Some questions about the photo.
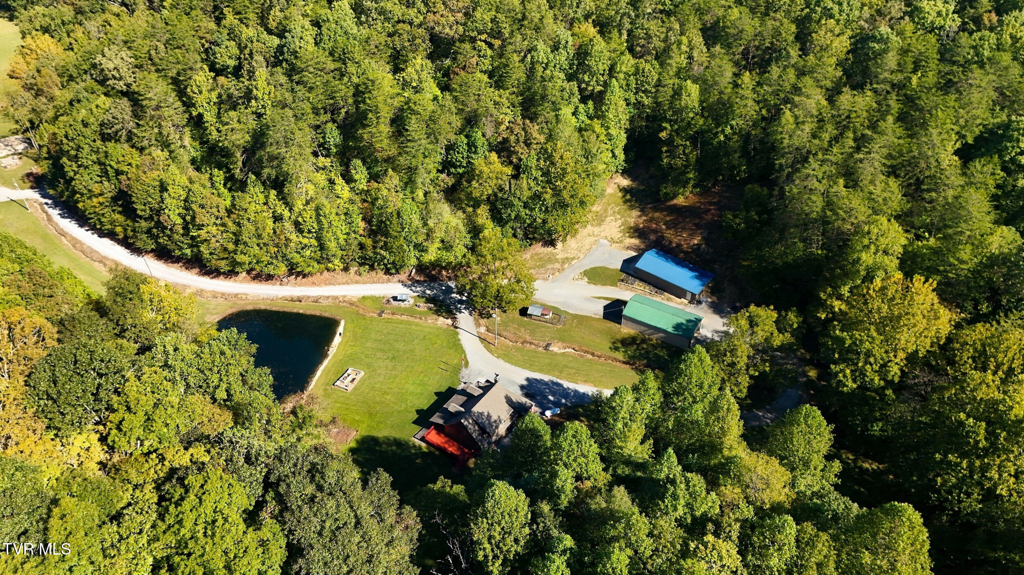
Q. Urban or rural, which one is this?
rural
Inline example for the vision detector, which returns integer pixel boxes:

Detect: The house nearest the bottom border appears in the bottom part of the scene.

[424,373,535,472]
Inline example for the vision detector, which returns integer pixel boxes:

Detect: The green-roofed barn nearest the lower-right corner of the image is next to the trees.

[620,293,704,347]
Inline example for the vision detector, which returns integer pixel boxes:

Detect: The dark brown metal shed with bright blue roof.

[635,248,717,305]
